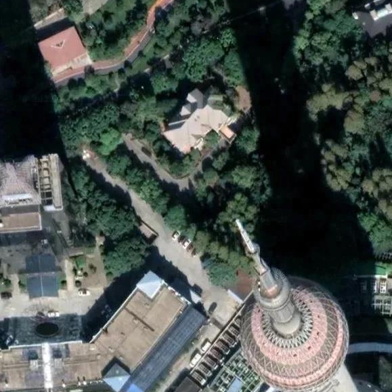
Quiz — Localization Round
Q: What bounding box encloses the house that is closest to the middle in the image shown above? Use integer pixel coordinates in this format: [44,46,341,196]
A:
[164,92,233,152]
